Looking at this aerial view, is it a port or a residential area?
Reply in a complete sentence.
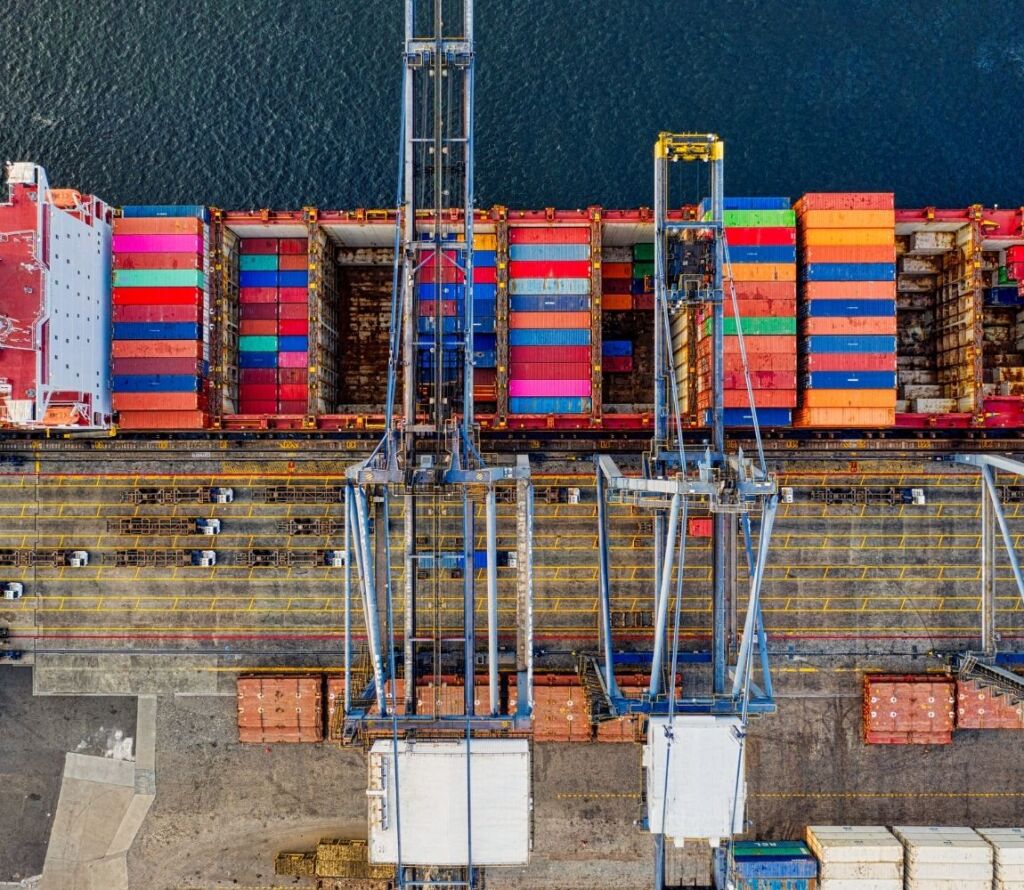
The picture captures a port.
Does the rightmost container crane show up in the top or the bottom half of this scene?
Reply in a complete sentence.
The rightmost container crane is in the bottom half of the image.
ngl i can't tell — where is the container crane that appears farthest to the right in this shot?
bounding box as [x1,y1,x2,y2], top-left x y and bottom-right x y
[909,454,1024,713]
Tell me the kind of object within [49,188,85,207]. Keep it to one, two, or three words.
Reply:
boat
